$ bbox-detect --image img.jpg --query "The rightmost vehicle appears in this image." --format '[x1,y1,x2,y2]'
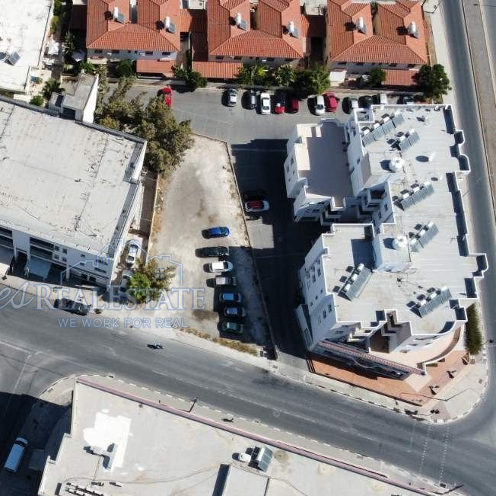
[400,88,414,106]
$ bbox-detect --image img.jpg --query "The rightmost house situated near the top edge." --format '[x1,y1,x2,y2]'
[318,0,427,81]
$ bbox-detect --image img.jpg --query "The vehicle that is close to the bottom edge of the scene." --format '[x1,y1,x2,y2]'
[0,435,30,476]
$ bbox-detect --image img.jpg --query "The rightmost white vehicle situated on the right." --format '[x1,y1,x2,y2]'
[376,88,390,106]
